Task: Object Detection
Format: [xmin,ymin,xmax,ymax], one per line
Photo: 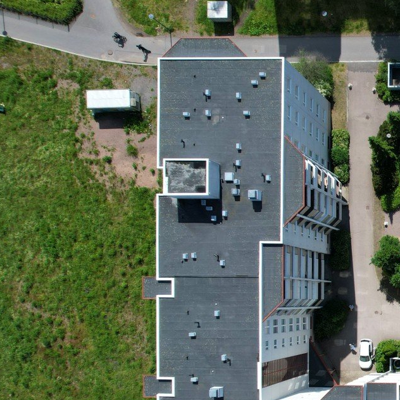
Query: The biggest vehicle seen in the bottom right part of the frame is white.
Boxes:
[357,338,376,369]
